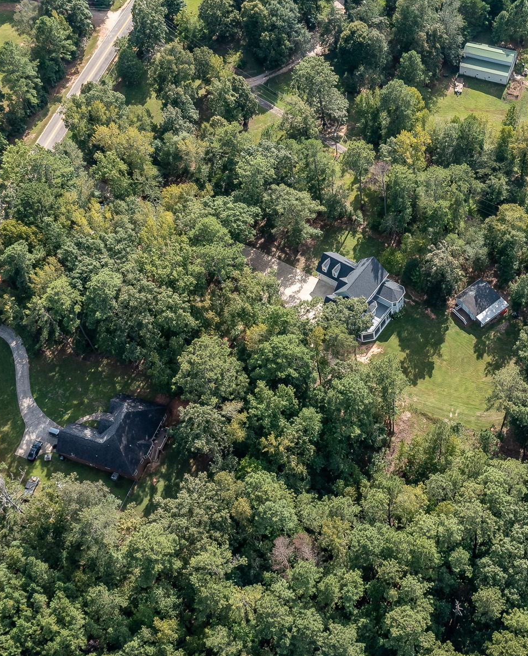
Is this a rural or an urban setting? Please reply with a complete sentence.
The area shown here is rural.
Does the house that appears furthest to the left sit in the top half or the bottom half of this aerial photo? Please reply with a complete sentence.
The house that appears furthest to the left is in the bottom half of the image.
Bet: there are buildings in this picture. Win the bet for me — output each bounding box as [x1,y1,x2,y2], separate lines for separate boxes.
[446,281,504,331]
[459,42,519,85]
[55,393,170,479]
[315,252,406,342]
